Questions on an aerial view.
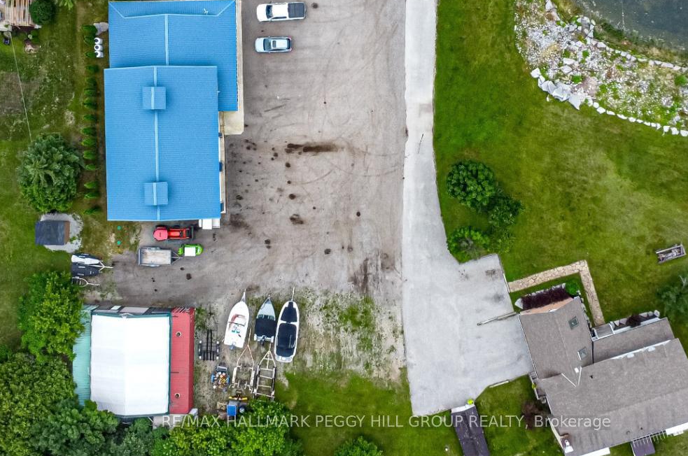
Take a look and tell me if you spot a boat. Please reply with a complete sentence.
Yes, you can see a boat in this photo.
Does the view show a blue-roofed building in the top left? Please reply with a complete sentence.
Yes, a blue-roofed building appears in the top left.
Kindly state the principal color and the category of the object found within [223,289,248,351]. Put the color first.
white boat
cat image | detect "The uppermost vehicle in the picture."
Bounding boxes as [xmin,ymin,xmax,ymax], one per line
[257,0,306,21]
